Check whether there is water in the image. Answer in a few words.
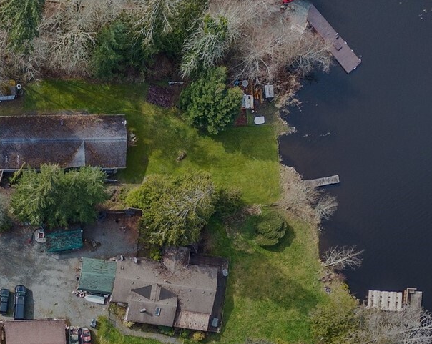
Yes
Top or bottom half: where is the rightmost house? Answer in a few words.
bottom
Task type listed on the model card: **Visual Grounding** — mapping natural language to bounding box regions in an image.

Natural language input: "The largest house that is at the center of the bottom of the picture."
[109,247,232,333]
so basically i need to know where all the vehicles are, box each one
[69,324,80,344]
[88,317,98,328]
[0,287,11,316]
[81,327,92,344]
[16,286,28,319]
